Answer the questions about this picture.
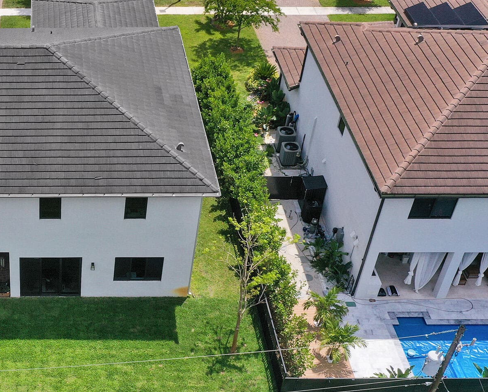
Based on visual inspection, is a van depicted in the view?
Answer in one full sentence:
No, I can't see a single van in this photo.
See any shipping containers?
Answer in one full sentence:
No, there is no shipping container in the image.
